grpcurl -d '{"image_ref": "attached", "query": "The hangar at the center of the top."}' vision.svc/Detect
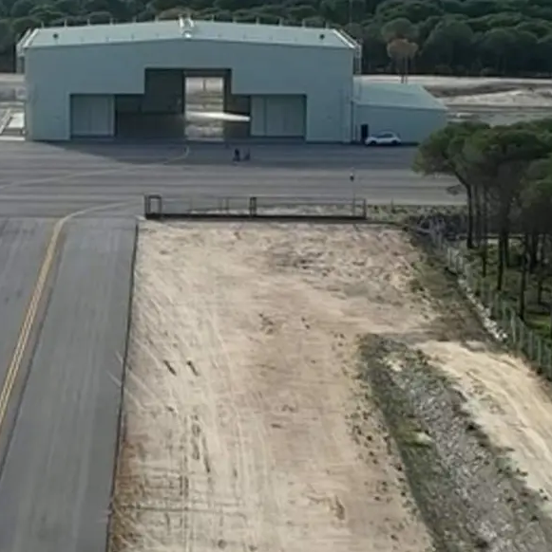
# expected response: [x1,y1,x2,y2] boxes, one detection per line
[15,11,452,141]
